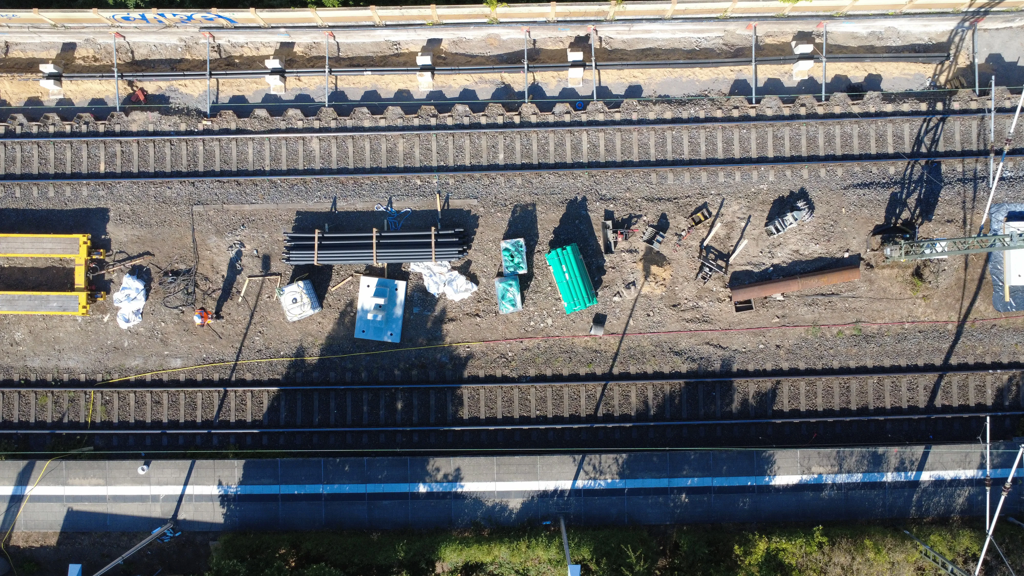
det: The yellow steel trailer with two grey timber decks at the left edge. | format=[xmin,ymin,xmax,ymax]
[0,233,109,317]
